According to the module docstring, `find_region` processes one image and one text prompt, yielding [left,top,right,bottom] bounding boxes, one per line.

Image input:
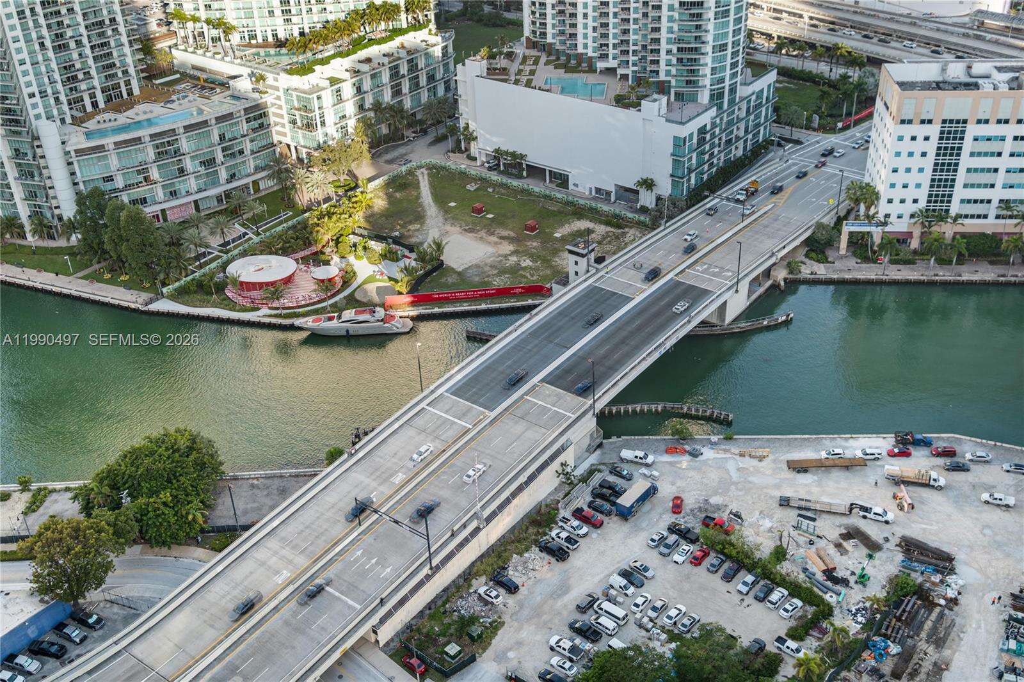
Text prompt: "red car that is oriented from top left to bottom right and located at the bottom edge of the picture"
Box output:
[399,654,428,676]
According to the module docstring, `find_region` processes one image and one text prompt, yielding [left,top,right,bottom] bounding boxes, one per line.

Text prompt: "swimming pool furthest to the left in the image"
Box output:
[86,106,202,138]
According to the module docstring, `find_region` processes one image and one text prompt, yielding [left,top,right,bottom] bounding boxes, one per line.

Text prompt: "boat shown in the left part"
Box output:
[300,309,416,337]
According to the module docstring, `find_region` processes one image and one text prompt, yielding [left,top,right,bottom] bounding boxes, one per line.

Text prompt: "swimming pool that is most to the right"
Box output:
[545,76,605,97]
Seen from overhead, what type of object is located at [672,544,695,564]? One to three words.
car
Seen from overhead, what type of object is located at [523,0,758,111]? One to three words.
building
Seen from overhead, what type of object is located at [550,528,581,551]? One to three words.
truck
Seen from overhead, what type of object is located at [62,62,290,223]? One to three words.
building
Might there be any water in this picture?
Yes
